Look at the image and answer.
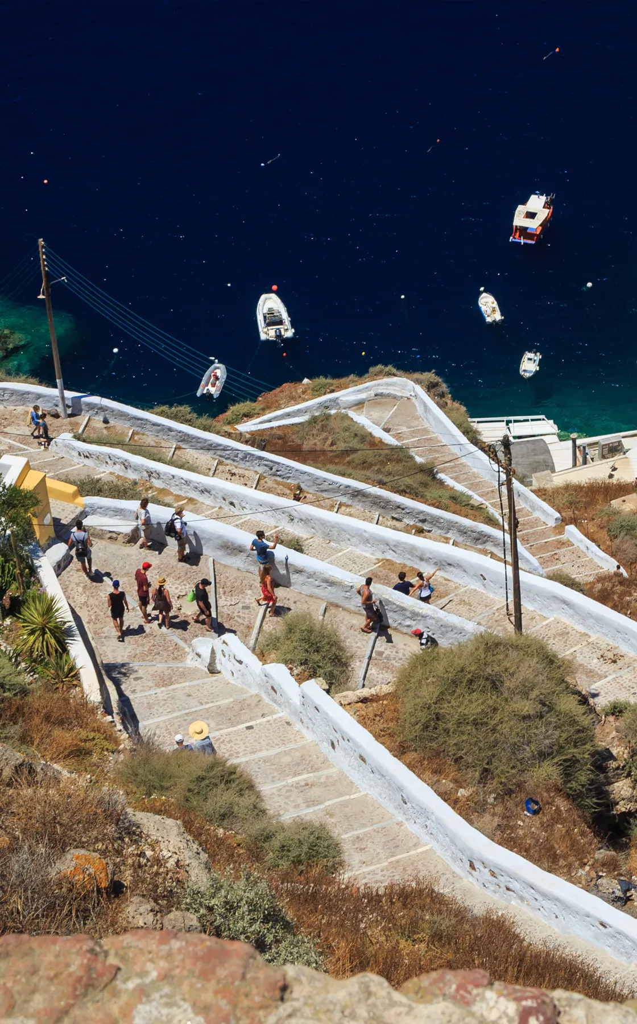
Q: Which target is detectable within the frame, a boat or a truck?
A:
boat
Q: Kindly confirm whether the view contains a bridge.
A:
No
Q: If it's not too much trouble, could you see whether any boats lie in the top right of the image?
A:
Yes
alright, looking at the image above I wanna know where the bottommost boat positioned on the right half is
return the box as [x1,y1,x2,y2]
[517,342,548,382]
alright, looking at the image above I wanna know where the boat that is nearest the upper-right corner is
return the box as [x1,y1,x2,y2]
[508,181,563,248]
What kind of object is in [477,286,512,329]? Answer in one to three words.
boat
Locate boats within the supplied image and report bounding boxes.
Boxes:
[254,291,297,348]
[477,286,512,329]
[508,181,563,248]
[517,342,548,382]
[196,362,227,403]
